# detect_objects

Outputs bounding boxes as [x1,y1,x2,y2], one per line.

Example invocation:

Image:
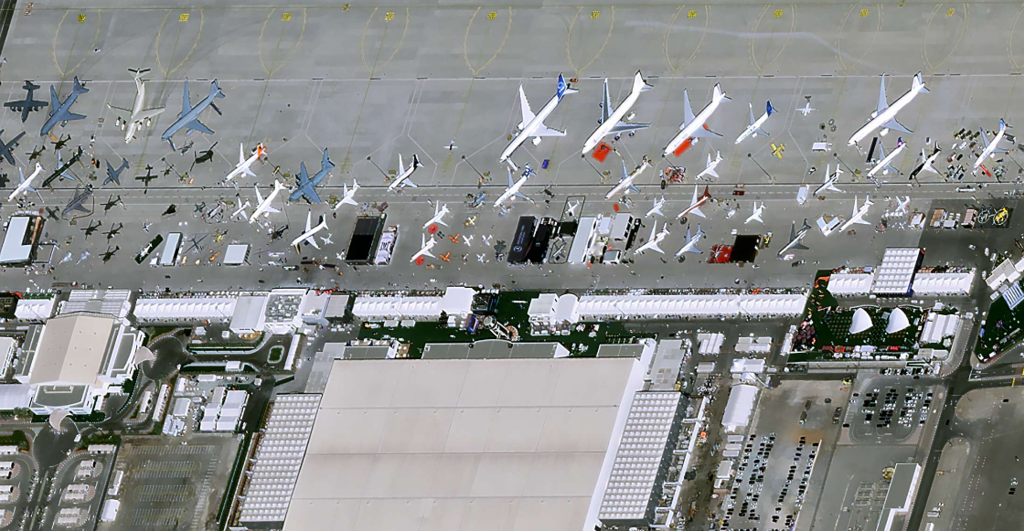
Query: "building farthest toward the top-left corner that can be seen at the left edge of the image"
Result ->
[0,217,35,266]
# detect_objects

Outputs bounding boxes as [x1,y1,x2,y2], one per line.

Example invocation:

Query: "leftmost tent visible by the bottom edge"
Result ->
[100,499,123,523]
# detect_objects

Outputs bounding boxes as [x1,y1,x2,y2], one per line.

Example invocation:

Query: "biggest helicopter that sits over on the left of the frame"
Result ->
[192,141,217,168]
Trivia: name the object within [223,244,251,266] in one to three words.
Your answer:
building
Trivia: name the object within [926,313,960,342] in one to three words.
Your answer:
tent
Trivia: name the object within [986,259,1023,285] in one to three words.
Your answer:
building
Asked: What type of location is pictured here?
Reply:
airport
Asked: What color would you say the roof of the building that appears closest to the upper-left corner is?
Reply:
white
